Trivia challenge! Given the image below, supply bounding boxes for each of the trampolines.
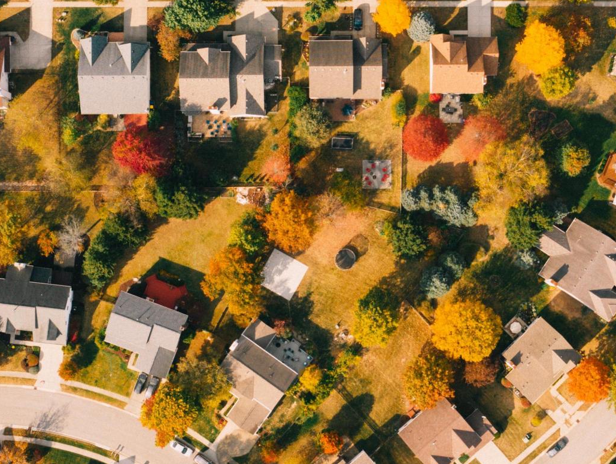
[335,248,356,268]
[332,136,353,148]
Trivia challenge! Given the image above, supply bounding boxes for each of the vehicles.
[171,439,192,456]
[353,8,364,30]
[134,373,147,393]
[145,377,158,395]
[545,435,569,458]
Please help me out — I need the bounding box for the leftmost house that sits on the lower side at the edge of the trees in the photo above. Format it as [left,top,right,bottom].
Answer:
[0,263,74,346]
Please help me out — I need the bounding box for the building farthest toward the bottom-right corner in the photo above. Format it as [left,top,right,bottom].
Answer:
[502,317,583,407]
